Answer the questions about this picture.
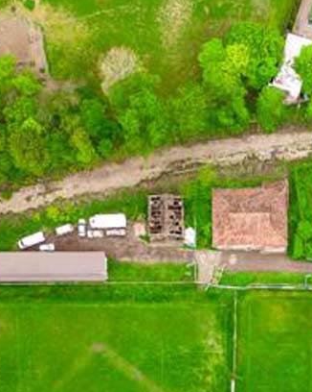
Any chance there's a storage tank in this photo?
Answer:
No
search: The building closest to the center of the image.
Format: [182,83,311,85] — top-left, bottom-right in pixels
[146,193,186,246]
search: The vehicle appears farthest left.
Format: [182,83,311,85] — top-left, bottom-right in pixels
[21,231,45,249]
